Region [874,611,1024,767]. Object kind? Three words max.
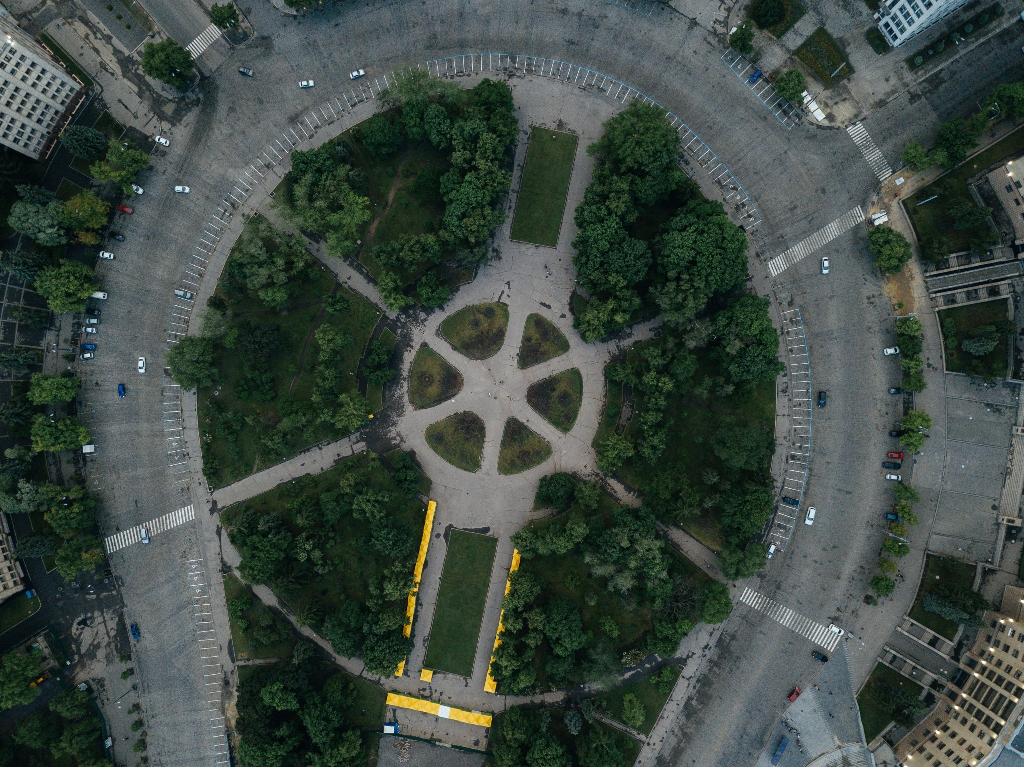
building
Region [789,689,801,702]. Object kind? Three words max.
vehicle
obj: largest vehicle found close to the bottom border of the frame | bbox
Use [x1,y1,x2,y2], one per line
[766,733,788,766]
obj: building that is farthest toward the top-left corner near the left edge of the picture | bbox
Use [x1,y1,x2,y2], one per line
[0,26,91,165]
